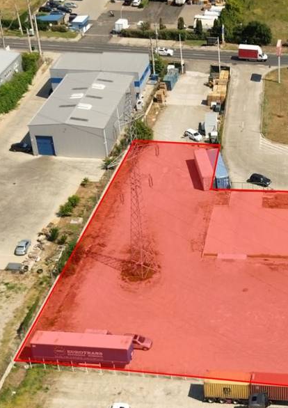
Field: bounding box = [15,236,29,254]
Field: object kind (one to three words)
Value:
car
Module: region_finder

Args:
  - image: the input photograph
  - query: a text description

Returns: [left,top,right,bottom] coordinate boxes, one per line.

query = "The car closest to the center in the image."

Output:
[183,126,203,140]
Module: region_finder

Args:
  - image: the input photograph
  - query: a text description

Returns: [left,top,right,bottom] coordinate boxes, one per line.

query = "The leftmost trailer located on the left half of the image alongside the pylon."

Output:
[27,331,135,364]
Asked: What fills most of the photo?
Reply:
paved ground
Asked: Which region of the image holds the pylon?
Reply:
center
